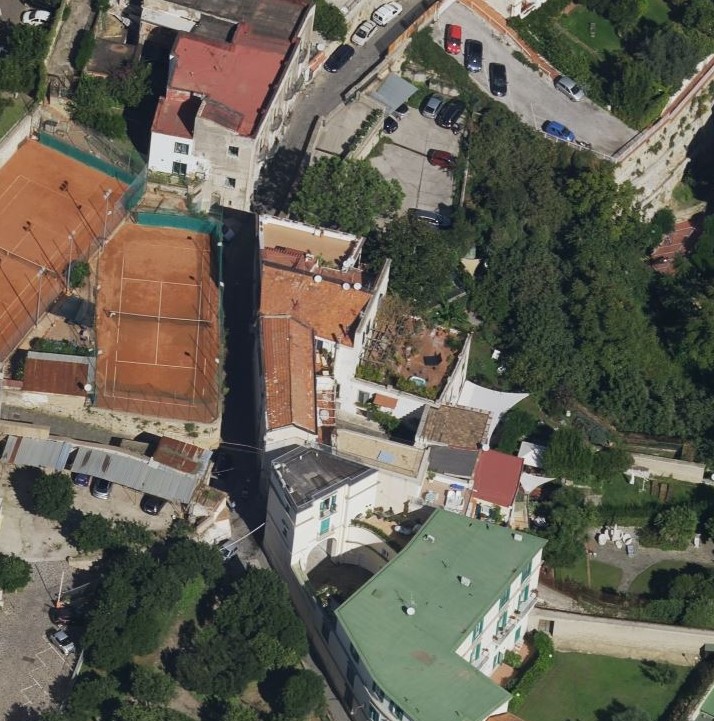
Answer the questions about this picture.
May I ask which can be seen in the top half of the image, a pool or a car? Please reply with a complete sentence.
What appears in the top half of the image is a car.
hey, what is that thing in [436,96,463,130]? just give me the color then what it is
black car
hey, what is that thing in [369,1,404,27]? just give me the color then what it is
white car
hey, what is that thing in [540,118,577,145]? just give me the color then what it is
blue car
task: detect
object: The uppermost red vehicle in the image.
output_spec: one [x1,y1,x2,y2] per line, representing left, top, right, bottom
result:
[444,25,462,54]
